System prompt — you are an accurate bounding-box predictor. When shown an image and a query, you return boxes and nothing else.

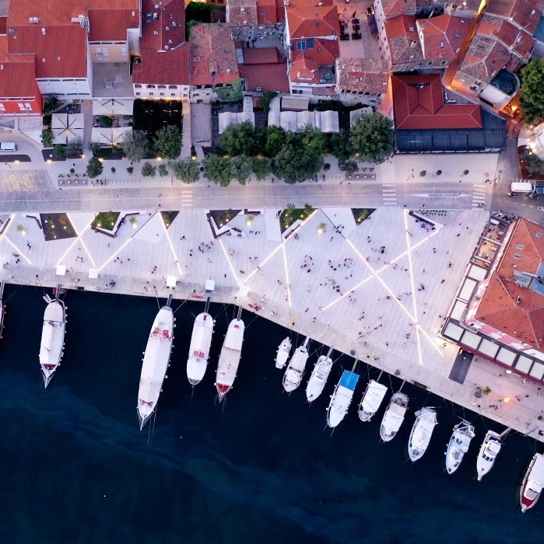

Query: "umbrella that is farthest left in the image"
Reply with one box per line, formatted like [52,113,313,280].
[52,113,83,144]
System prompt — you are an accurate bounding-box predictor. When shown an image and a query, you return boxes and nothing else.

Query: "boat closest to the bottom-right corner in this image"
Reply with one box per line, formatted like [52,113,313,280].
[517,444,544,521]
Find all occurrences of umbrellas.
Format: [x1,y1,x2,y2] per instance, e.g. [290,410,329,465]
[93,99,133,114]
[92,127,132,144]
[135,124,157,145]
[52,113,83,144]
[367,15,379,33]
[134,100,157,123]
[159,100,181,123]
